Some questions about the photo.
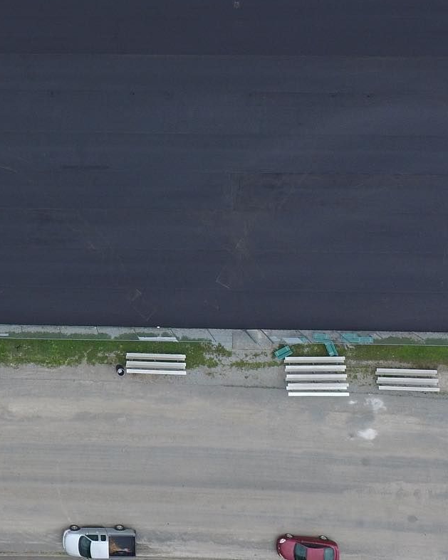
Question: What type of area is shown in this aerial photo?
sports ground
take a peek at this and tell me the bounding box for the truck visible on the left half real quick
[62,524,136,560]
